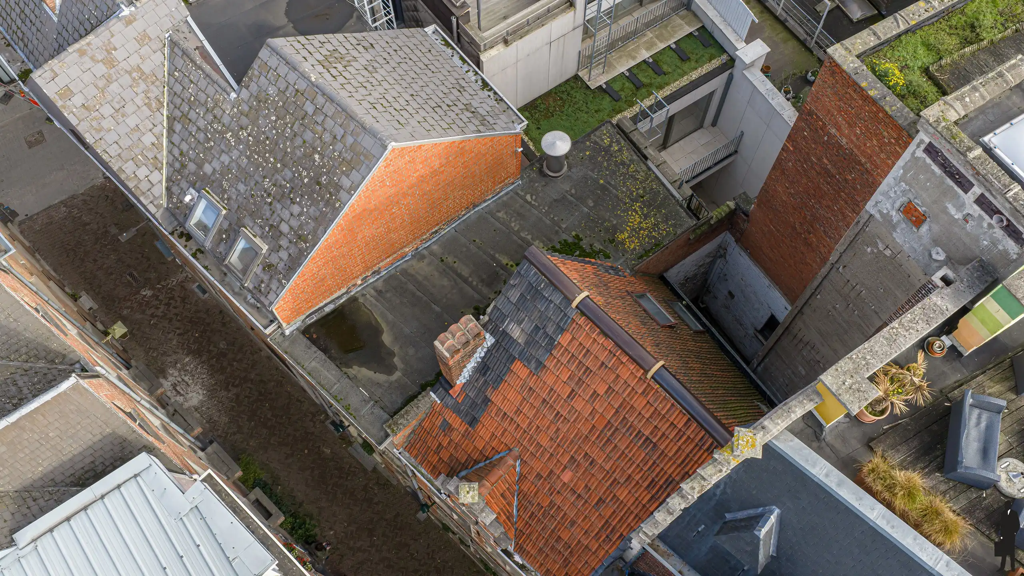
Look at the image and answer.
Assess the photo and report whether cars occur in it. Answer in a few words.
No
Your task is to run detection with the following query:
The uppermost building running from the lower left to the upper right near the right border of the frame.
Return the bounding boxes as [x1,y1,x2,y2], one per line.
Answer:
[858,0,1024,112]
